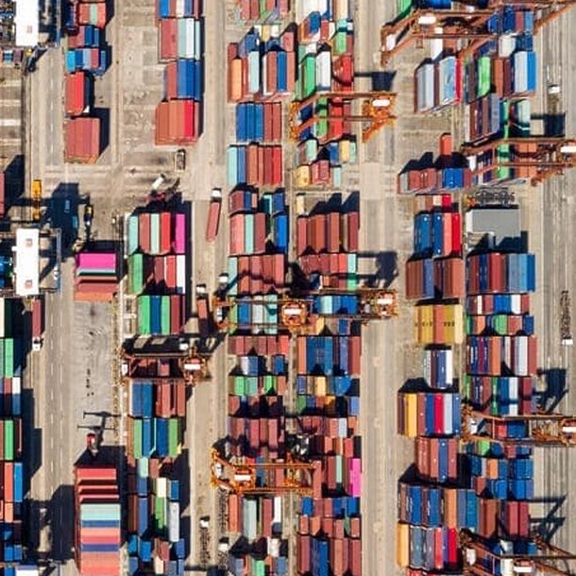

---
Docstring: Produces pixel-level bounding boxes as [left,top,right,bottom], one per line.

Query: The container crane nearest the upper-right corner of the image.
[462,0,576,32]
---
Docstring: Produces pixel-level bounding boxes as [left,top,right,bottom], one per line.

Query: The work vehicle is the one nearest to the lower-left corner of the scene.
[79,425,119,457]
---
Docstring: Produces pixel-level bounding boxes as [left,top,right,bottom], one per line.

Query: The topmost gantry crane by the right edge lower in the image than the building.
[462,405,576,449]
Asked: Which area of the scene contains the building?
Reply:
right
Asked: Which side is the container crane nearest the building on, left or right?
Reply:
right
